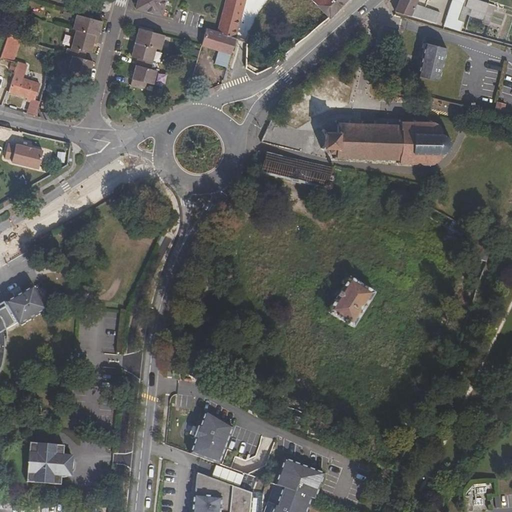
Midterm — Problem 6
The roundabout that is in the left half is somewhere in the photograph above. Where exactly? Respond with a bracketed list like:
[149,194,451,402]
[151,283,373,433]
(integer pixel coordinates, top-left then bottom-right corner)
[152,104,245,196]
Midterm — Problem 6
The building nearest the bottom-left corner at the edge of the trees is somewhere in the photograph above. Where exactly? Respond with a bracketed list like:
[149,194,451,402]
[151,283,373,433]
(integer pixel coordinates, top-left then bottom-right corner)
[26,442,75,485]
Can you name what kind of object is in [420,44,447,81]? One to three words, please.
building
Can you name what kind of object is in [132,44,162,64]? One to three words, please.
house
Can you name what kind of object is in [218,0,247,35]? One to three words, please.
house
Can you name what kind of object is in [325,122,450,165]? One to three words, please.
building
